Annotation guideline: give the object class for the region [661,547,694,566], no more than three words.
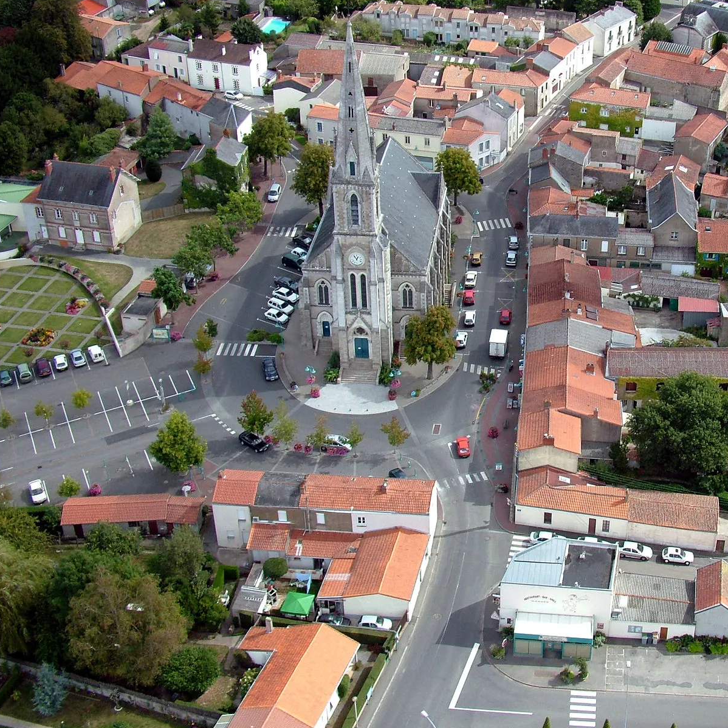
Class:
car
